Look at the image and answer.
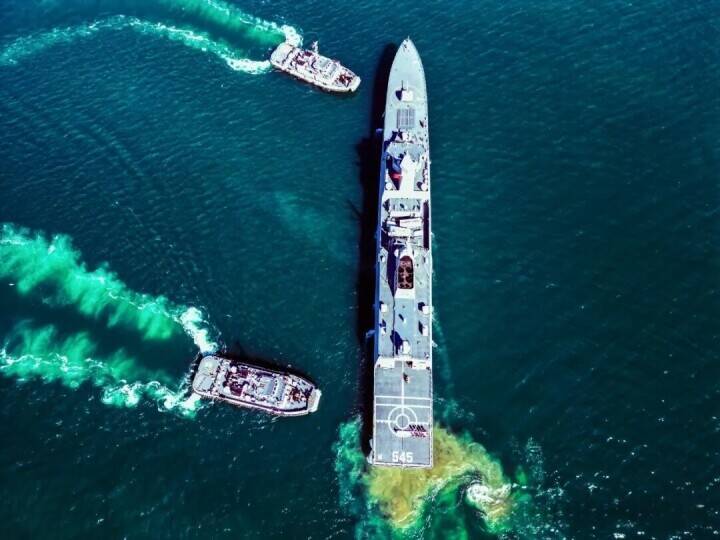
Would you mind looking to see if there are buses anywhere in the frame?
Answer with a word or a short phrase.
No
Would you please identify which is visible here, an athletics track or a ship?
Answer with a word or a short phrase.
ship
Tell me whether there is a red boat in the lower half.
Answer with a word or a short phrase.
No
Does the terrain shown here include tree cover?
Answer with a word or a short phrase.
No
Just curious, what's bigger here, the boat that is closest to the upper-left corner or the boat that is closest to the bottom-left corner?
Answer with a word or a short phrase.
the boat that is closest to the bottom-left corner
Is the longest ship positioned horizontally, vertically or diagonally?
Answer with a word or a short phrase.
vertically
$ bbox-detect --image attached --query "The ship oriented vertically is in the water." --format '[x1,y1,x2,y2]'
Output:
[367,34,437,469]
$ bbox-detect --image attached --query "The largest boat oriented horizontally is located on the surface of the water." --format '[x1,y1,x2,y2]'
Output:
[193,357,321,413]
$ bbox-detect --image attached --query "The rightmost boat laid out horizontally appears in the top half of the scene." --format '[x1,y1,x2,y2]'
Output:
[271,46,362,91]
